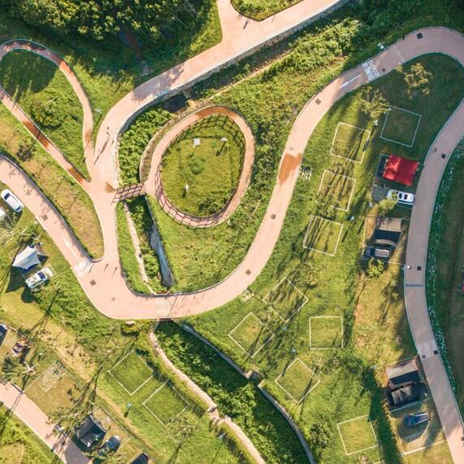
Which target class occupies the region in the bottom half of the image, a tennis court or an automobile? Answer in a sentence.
Visible in the bottom half of the image is an automobile.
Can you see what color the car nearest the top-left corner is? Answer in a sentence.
The color of the car nearest the top-left corner is white.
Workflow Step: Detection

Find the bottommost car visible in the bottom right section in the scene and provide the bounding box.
[402,411,431,427]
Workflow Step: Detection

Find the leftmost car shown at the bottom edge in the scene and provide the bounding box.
[99,431,124,456]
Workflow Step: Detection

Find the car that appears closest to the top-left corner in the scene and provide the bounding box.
[2,188,26,215]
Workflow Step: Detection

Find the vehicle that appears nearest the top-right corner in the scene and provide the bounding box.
[387,189,414,204]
